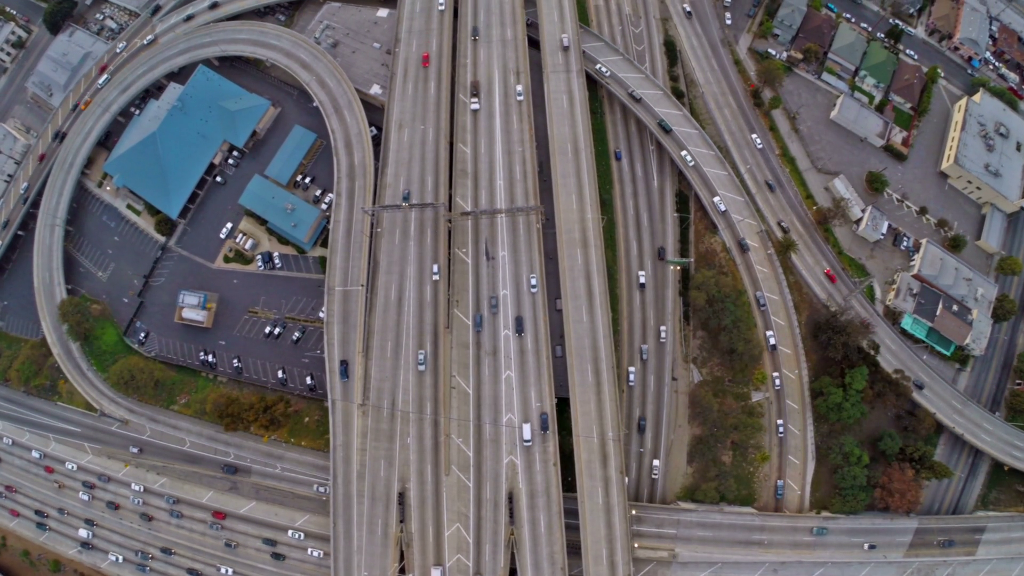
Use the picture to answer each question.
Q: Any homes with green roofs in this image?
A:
Yes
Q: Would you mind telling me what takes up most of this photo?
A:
paved ground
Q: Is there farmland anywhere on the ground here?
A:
No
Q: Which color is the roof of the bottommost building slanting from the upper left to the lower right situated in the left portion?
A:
blue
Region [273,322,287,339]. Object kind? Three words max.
car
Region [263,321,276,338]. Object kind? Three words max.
vehicle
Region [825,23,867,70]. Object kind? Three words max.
house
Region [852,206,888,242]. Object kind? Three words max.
building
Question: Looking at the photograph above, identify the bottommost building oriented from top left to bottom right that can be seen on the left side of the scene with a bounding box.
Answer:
[239,174,327,251]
